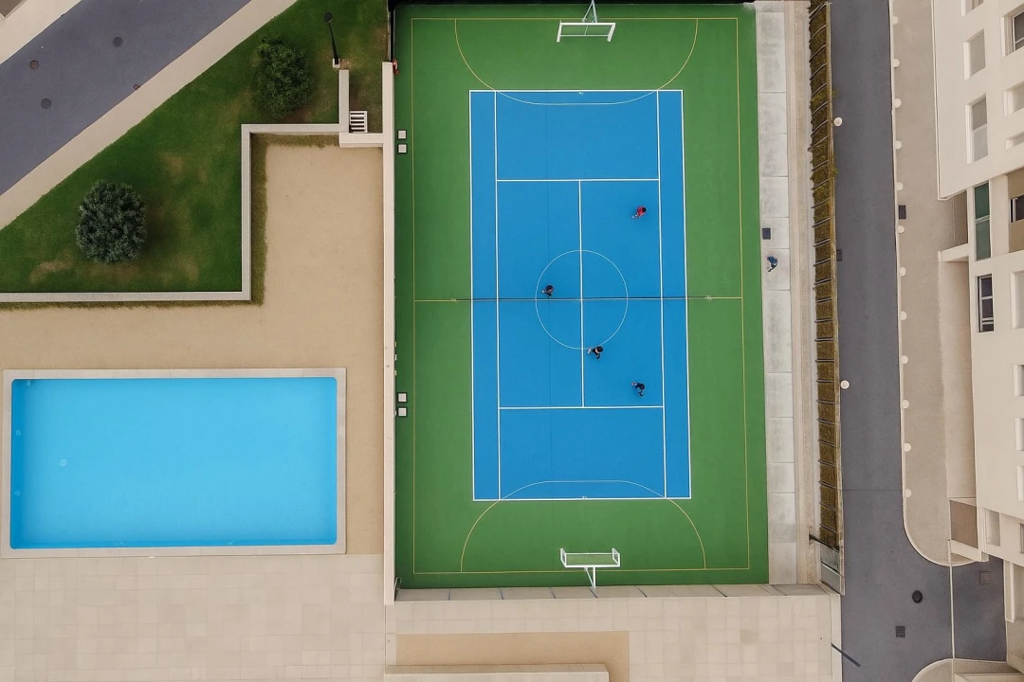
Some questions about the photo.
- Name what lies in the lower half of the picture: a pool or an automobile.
pool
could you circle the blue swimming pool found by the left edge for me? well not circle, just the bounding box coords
[1,368,346,557]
